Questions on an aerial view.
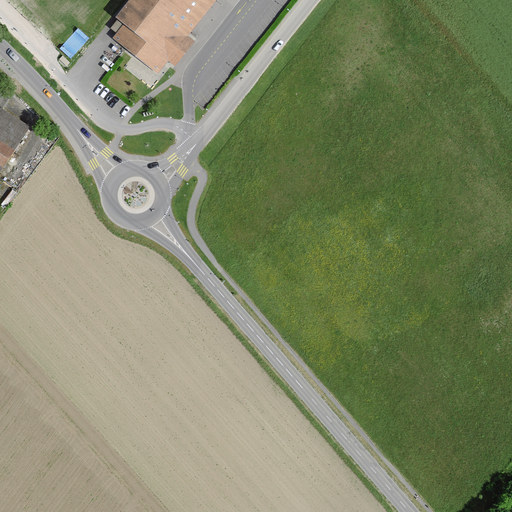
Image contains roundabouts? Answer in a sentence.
Yes, there's a roundabout down there.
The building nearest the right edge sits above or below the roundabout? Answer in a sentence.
Looking at the photo, you'll find the building nearest the right edge above the roundabout.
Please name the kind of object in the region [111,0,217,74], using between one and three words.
building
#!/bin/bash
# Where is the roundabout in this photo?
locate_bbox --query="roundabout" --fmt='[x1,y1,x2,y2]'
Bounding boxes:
[101,160,171,230]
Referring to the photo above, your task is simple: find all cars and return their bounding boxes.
[100,88,109,98]
[274,40,283,50]
[109,96,118,107]
[147,162,159,168]
[42,89,52,98]
[120,105,129,116]
[112,154,122,164]
[80,128,91,138]
[105,92,114,102]
[95,84,104,94]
